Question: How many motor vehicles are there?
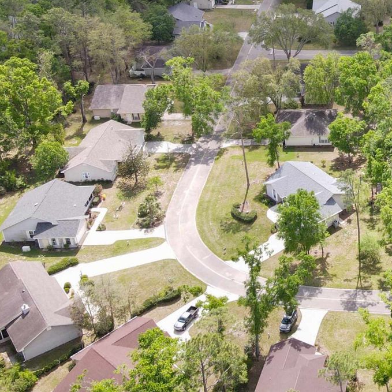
two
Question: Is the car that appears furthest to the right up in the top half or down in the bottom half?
bottom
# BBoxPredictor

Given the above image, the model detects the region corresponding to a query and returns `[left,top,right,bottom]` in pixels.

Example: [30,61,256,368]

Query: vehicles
[171,303,201,331]
[278,309,300,332]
